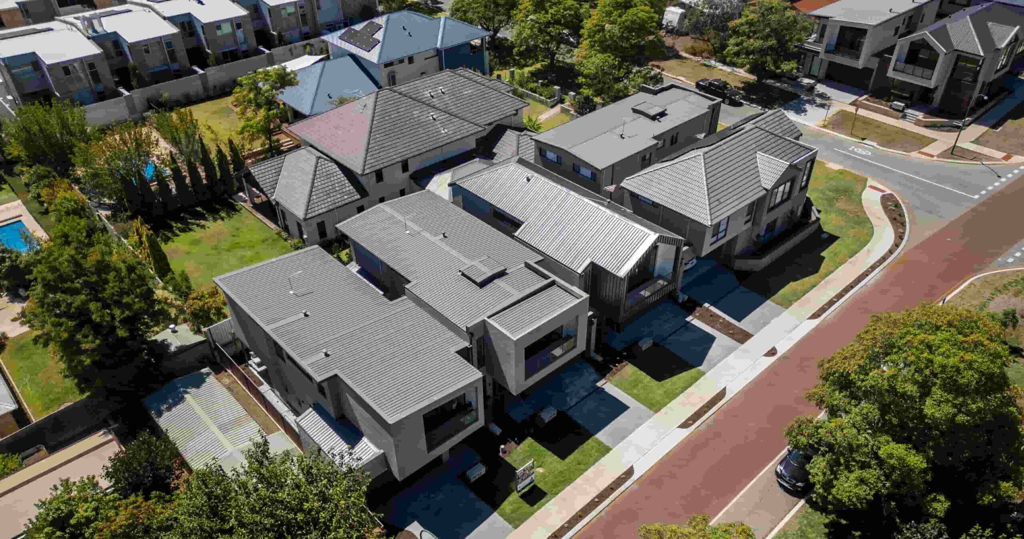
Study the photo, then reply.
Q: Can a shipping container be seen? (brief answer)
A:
No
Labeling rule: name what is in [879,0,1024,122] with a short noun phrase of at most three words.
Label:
house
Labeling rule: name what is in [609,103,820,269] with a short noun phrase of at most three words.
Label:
house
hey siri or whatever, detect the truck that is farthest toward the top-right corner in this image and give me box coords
[694,81,741,106]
